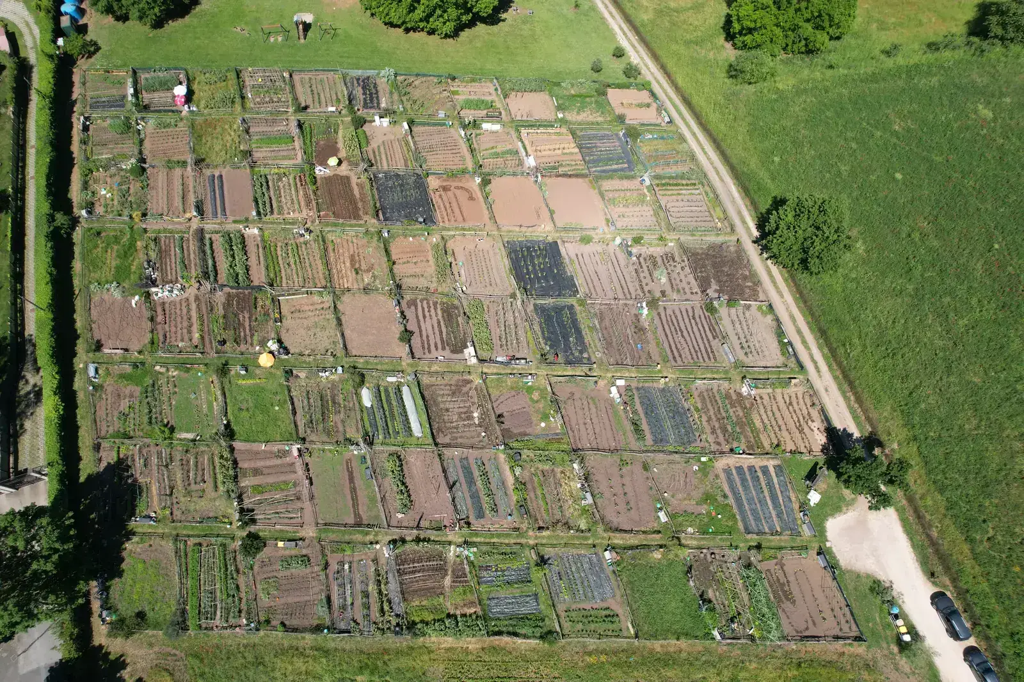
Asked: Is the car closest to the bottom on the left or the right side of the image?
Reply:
right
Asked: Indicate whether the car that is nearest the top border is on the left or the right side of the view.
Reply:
right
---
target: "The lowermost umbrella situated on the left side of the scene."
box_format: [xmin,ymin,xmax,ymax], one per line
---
[259,353,276,371]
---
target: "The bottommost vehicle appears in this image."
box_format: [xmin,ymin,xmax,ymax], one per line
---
[960,649,998,682]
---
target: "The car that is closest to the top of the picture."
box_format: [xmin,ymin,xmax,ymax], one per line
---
[927,591,970,641]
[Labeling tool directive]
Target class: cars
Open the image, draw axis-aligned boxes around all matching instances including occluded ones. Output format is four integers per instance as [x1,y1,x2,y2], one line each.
[927,591,970,641]
[960,649,998,682]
